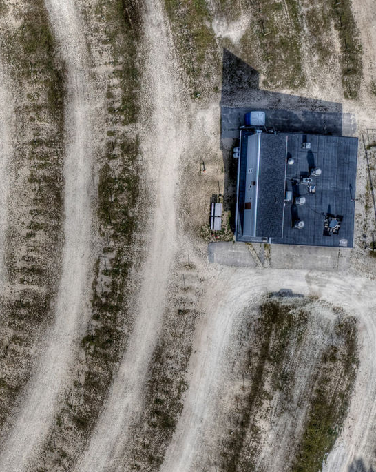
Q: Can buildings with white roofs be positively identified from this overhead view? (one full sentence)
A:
No, there is no building with a white roof in the image.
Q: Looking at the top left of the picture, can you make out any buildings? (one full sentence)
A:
No, the scene shows no building at the top left of the picture.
